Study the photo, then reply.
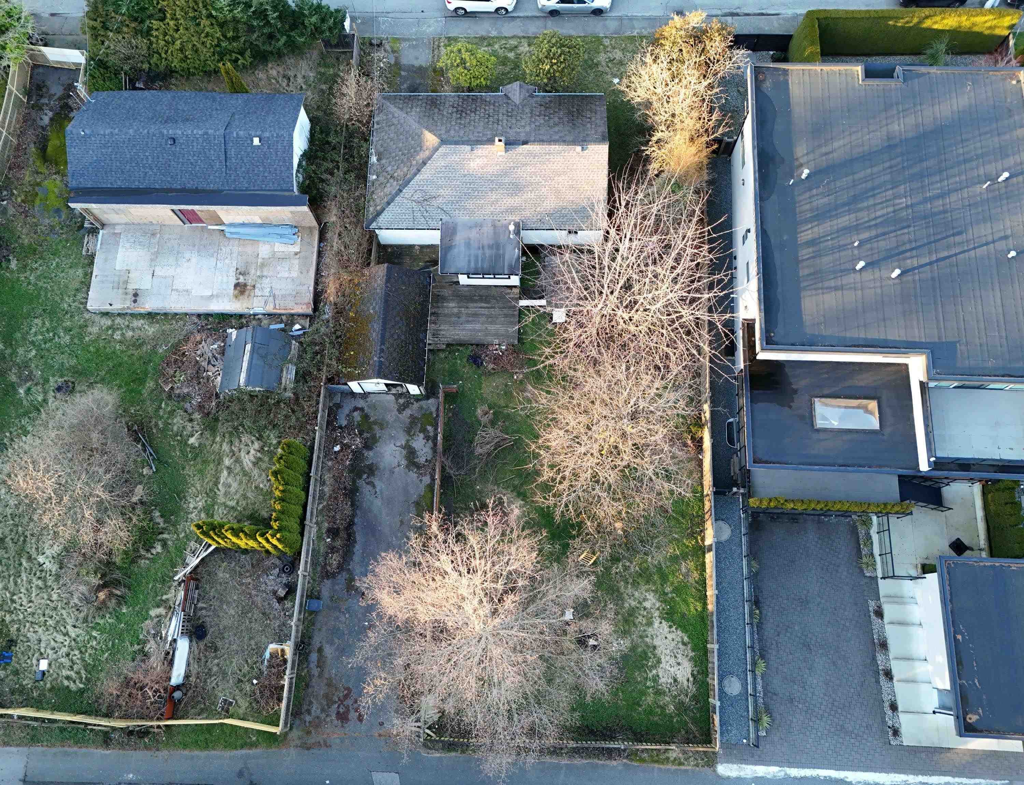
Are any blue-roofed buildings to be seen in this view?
Yes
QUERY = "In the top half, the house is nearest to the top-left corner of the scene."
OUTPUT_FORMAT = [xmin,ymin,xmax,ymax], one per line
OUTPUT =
[66,91,321,227]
